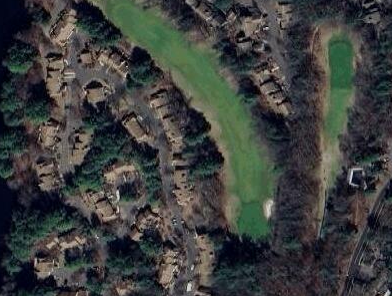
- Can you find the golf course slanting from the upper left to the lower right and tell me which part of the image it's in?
center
